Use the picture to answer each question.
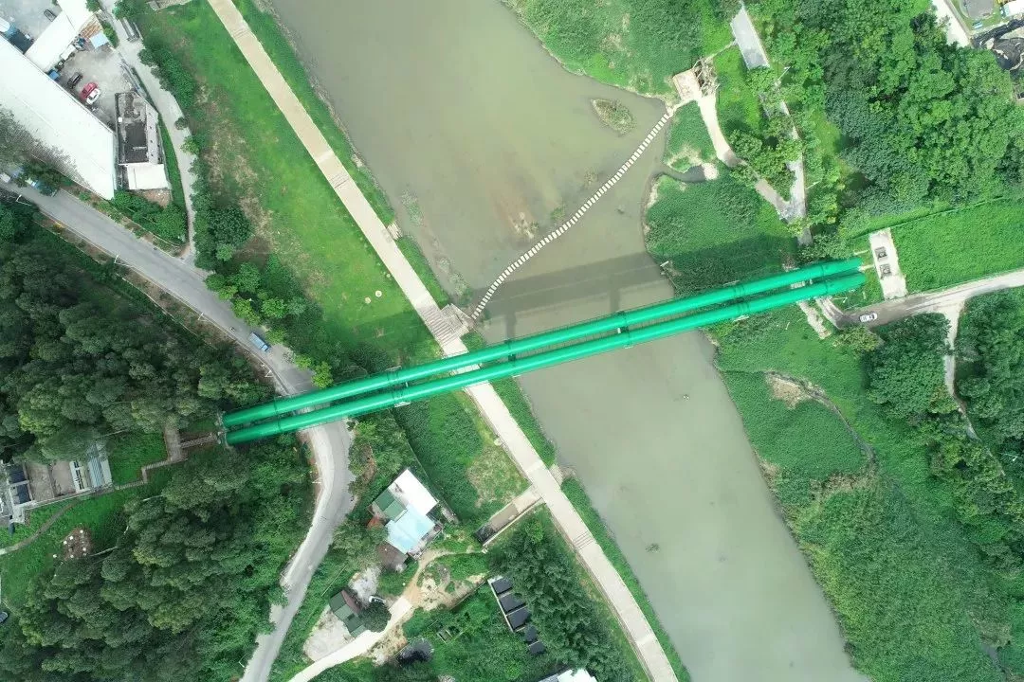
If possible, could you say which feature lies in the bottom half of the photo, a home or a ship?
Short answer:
home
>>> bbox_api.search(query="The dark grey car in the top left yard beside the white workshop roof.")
[40,6,56,22]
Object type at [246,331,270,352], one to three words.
truck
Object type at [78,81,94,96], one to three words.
car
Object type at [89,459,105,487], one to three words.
shed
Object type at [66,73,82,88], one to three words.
car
